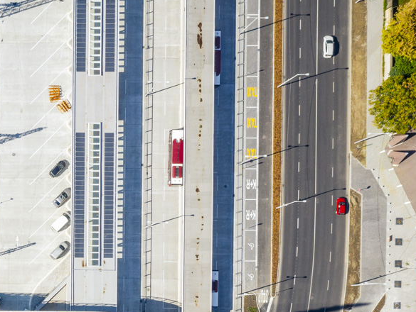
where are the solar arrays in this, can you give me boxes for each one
[105,132,115,258]
[77,132,86,258]
[106,0,116,71]
[77,0,87,71]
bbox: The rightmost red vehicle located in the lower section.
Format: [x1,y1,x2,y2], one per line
[336,197,348,217]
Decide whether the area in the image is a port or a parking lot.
parking lot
